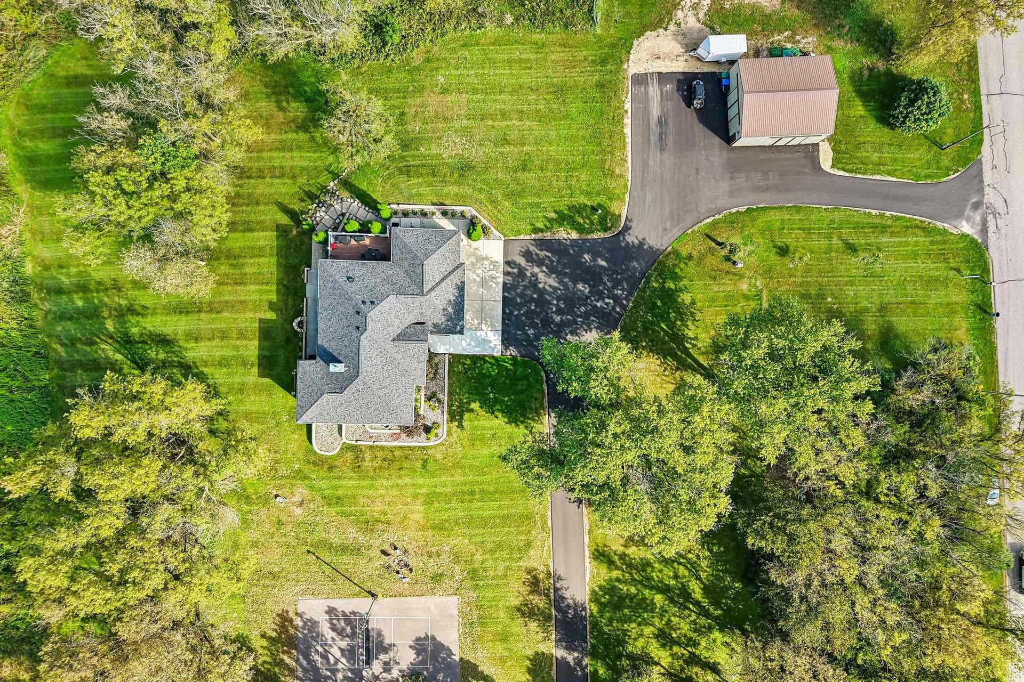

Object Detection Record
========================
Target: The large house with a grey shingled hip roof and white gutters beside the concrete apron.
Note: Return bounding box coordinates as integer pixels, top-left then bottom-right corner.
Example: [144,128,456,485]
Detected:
[296,227,466,425]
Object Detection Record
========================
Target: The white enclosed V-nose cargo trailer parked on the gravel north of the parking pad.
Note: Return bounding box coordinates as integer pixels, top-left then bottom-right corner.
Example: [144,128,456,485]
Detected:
[687,35,747,62]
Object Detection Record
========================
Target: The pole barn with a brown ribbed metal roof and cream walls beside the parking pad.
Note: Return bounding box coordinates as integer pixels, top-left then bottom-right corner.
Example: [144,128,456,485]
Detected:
[728,56,841,146]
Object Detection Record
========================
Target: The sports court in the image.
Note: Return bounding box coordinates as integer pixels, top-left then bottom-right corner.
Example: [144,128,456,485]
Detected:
[295,596,460,682]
